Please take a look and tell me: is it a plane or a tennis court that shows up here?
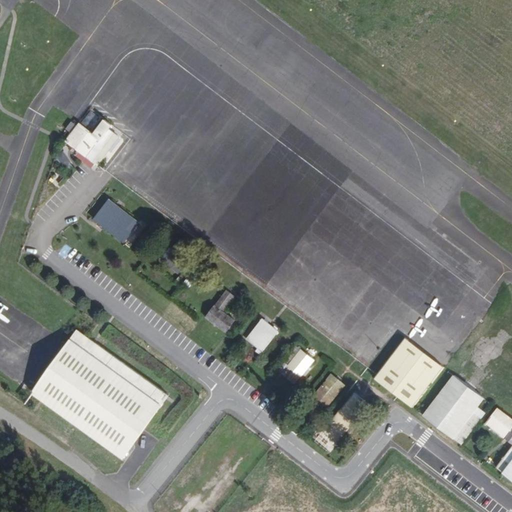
plane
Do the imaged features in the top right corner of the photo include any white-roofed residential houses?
No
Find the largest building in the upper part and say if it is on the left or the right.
left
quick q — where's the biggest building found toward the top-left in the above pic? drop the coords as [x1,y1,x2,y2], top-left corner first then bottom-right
[66,110,124,168]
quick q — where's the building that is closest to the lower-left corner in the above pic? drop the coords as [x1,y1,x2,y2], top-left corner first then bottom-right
[32,330,168,459]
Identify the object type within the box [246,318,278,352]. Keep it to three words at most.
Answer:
house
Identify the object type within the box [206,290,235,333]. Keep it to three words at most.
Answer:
house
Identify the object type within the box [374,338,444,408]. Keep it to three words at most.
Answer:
hangar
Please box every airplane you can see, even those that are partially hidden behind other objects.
[0,306,10,322]
[426,298,442,318]
[410,318,426,338]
